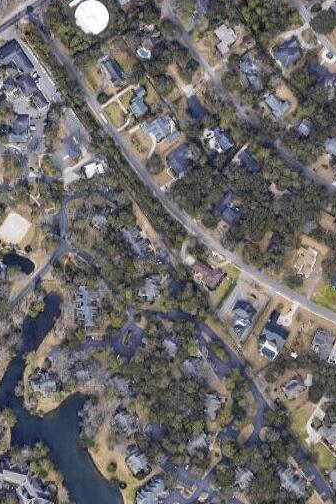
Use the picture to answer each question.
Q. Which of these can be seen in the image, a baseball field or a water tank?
water tank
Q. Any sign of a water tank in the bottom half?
No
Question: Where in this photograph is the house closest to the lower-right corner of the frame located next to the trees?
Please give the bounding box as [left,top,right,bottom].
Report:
[277,467,308,498]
